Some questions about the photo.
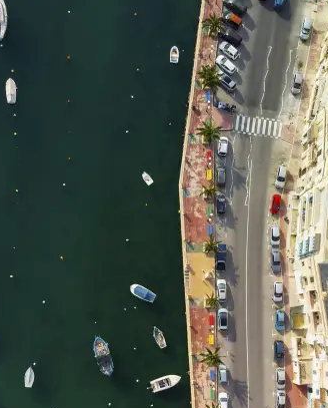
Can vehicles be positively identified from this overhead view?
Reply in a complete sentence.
Yes, this view includes a vehicle.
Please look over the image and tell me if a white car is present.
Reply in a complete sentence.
Yes, there's a white car down there.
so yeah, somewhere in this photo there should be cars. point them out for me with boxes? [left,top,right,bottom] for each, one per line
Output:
[218,365,228,385]
[217,166,227,187]
[223,12,242,29]
[271,250,281,272]
[272,282,283,302]
[275,391,286,408]
[274,341,285,362]
[225,0,246,14]
[217,195,227,214]
[218,309,229,331]
[274,311,285,330]
[218,137,229,156]
[275,368,286,388]
[219,41,240,60]
[218,56,237,74]
[219,393,228,408]
[221,28,242,47]
[292,74,302,94]
[270,194,281,215]
[275,167,286,187]
[218,280,227,302]
[300,19,312,40]
[270,226,281,246]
